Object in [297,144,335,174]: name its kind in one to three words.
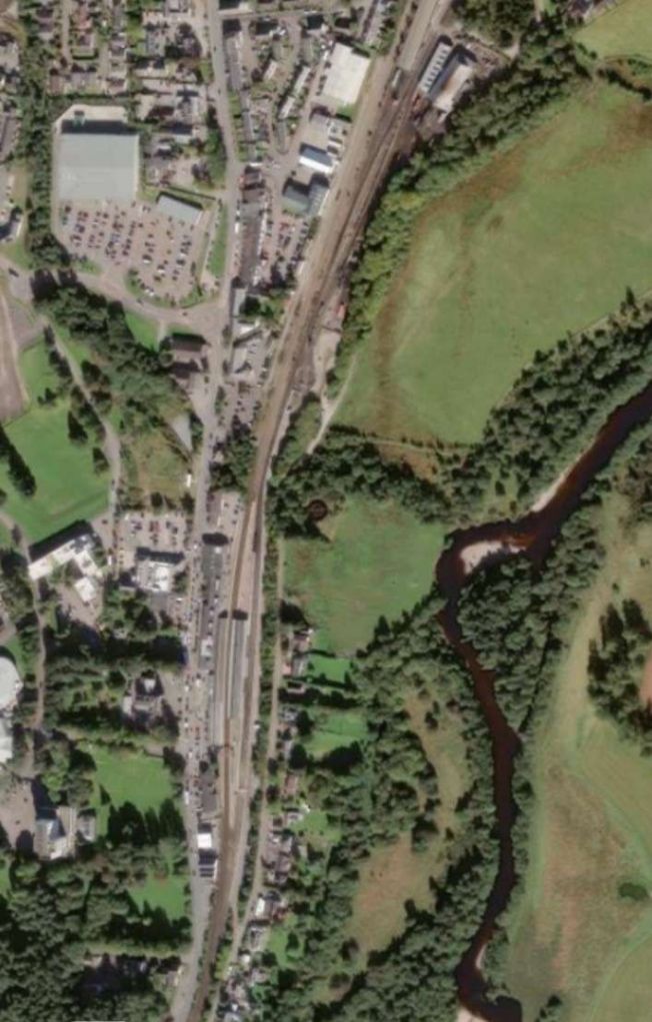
building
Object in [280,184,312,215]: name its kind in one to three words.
building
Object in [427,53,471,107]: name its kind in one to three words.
shed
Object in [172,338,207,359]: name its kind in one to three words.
house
